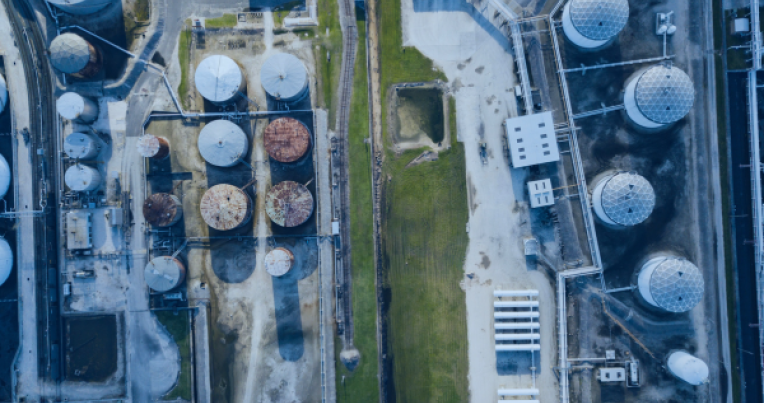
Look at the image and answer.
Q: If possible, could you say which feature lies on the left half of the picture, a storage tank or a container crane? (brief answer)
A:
storage tank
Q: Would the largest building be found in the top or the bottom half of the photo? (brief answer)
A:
top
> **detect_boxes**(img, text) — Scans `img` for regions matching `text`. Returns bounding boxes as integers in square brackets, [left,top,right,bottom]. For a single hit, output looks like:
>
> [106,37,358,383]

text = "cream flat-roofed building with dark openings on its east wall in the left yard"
[67,212,93,249]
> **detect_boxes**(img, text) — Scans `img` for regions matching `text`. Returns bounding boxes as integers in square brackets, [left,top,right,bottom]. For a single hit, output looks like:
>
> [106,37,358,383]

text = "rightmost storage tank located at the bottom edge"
[666,349,710,385]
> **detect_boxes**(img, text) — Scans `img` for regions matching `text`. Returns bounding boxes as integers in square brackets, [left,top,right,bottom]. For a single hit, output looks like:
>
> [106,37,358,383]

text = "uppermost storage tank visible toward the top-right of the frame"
[560,0,630,49]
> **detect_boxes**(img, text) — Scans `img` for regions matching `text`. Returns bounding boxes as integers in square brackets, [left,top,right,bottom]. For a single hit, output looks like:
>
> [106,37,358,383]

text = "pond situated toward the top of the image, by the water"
[386,78,450,153]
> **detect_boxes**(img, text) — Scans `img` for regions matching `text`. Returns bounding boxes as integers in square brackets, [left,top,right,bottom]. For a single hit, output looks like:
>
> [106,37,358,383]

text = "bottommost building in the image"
[598,366,625,381]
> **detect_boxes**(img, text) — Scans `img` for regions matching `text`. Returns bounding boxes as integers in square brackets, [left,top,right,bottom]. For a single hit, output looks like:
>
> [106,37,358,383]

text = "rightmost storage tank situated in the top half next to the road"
[624,65,695,128]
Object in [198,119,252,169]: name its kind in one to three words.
storage tank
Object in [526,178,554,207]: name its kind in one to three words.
building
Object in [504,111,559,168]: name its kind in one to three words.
building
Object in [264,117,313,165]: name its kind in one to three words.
storage tank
